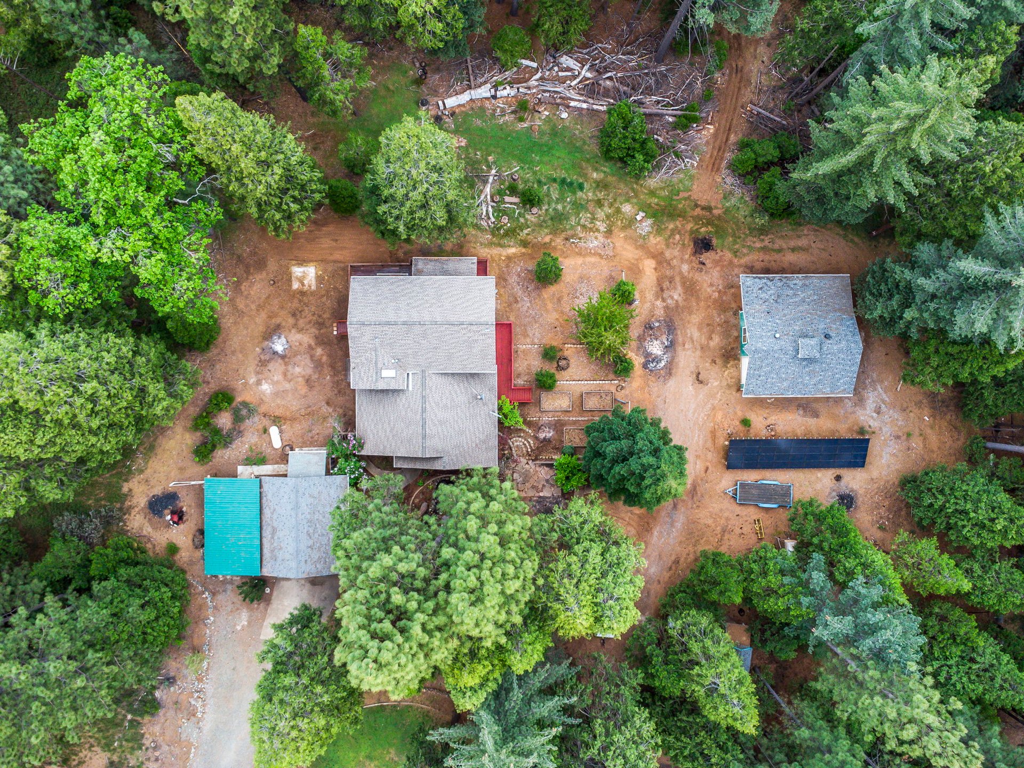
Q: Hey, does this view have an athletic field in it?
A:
No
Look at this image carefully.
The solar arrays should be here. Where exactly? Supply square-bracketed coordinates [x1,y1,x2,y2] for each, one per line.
[727,437,870,470]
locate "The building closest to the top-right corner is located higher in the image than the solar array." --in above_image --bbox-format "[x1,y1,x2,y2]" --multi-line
[738,274,866,398]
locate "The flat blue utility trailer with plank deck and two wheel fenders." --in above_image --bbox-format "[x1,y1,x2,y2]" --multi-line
[726,480,794,510]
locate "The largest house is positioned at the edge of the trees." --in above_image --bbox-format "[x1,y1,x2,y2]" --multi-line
[346,258,501,470]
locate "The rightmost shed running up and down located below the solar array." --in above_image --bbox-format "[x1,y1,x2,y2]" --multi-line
[726,624,753,675]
